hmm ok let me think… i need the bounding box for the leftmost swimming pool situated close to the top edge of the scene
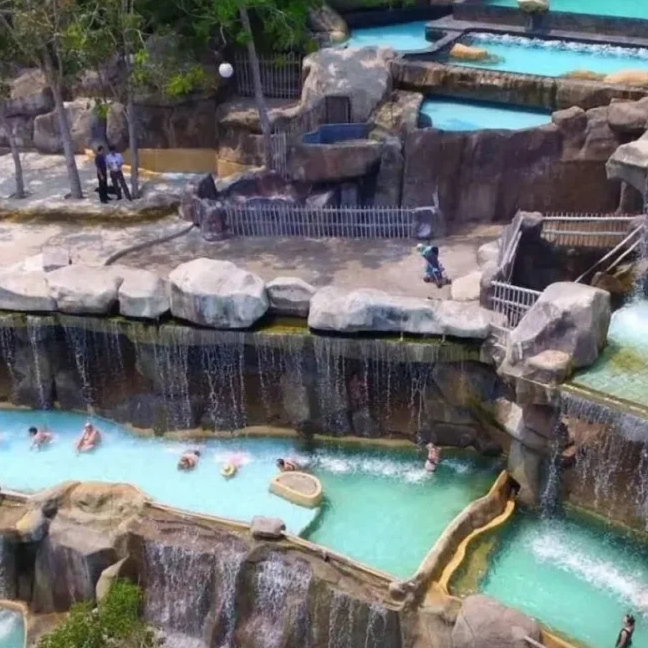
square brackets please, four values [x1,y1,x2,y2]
[329,18,448,60]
